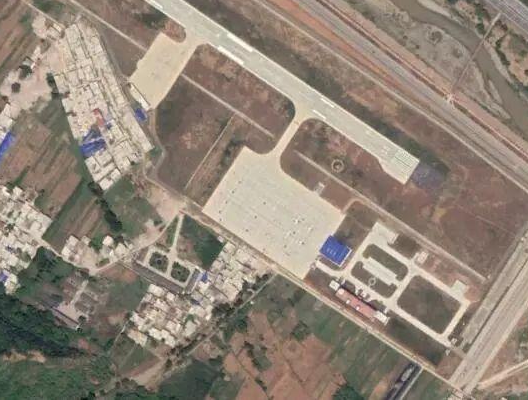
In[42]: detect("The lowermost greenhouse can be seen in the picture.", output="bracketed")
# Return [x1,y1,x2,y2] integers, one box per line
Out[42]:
[383,365,415,400]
